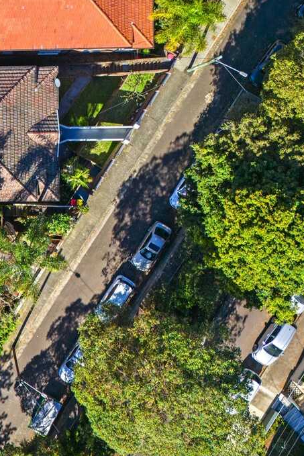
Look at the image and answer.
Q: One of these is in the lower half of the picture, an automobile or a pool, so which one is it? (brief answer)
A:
automobile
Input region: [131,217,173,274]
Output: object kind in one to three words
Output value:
car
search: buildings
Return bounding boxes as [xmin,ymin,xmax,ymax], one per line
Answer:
[0,0,153,54]
[0,65,64,204]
